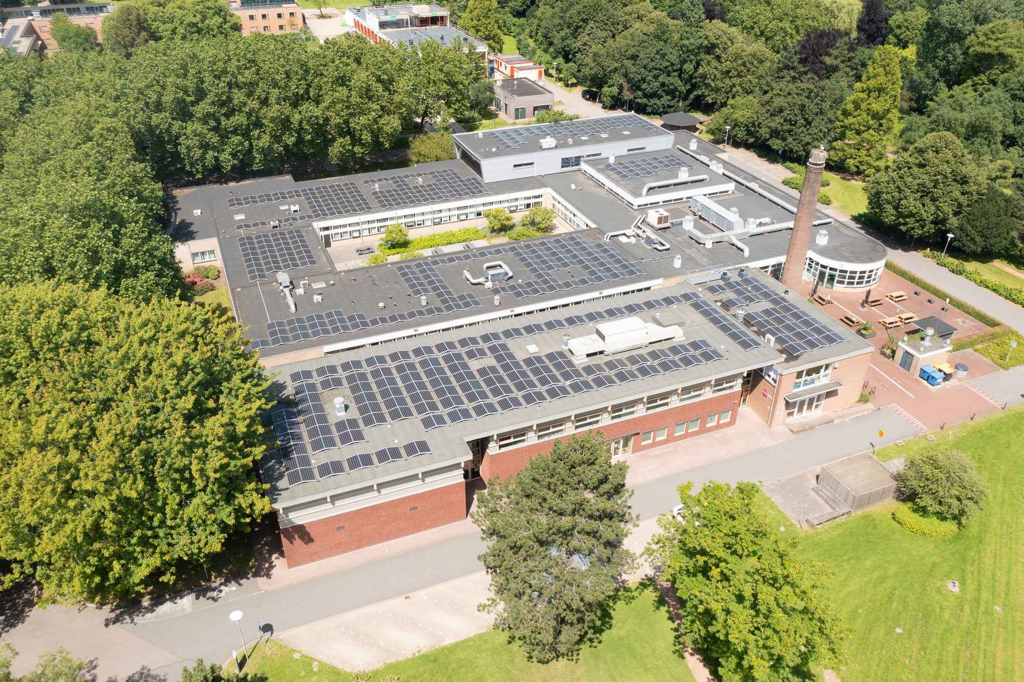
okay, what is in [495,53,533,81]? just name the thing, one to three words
building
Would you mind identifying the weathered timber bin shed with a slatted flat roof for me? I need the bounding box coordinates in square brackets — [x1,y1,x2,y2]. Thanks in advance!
[819,452,900,515]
